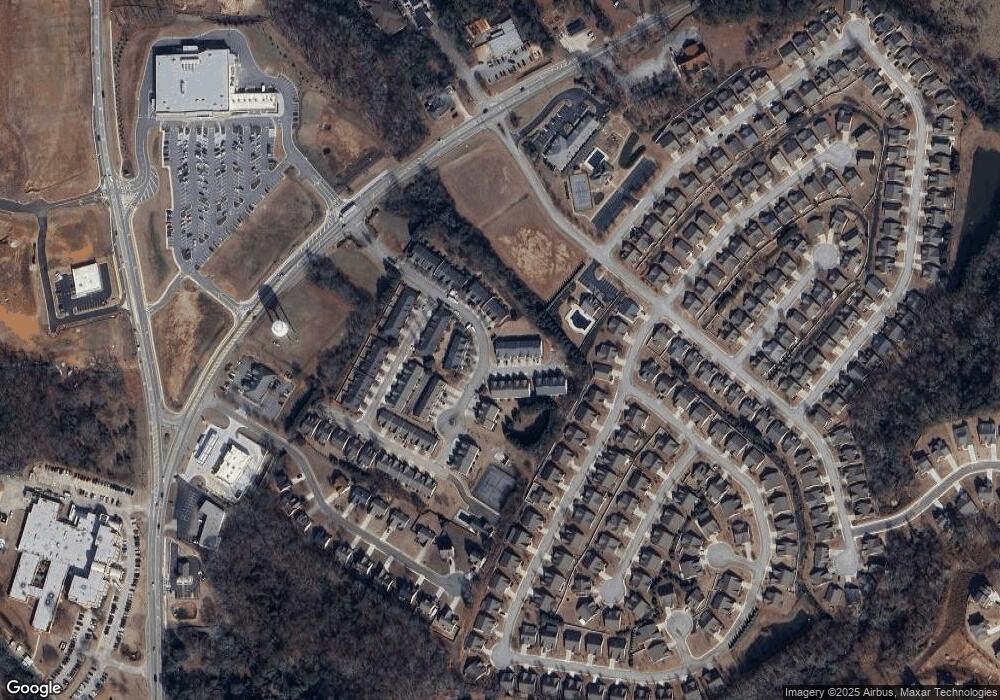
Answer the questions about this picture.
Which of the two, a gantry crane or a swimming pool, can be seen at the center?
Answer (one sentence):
There is a swimming pool at the center.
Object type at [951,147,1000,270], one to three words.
pond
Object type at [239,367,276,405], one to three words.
building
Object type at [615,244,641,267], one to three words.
house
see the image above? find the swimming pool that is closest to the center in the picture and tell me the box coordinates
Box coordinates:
[565,305,595,335]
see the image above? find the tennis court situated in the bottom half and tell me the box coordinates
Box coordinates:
[474,466,516,510]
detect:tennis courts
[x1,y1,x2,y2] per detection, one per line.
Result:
[568,173,593,210]
[474,466,516,510]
